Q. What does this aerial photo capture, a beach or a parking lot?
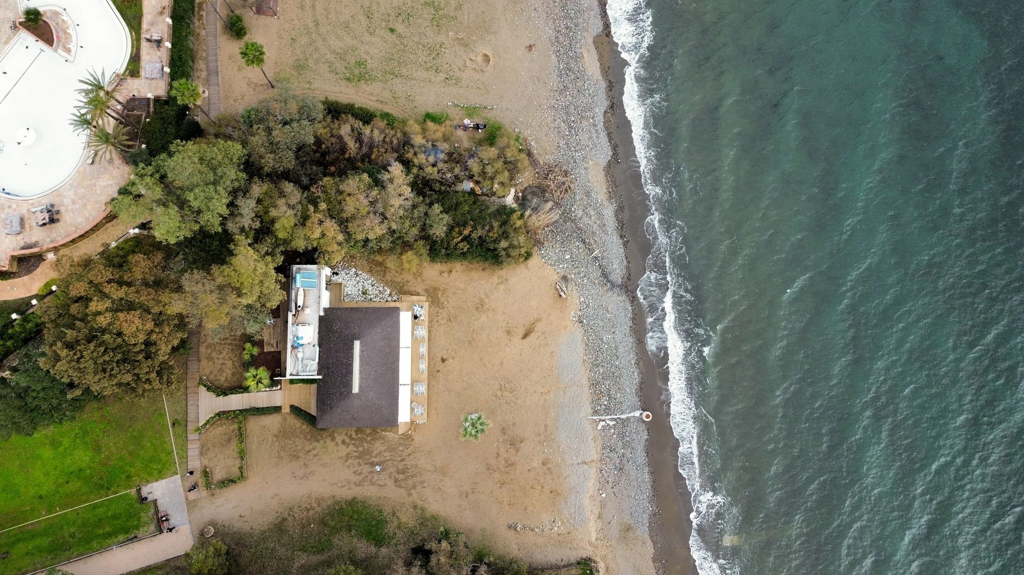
beach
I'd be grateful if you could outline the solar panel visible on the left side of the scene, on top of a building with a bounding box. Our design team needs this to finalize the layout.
[301,271,317,289]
